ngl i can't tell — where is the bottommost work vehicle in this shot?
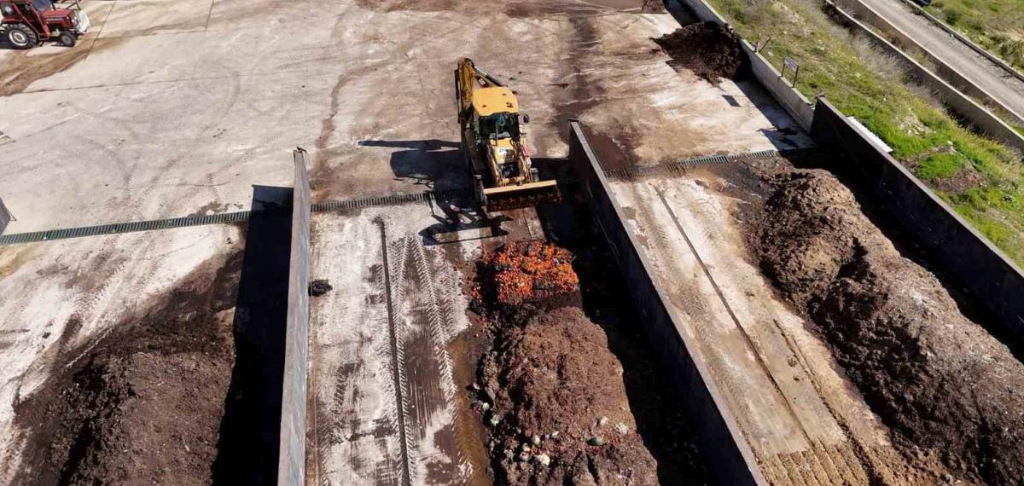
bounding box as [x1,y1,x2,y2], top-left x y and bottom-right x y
[451,56,562,211]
